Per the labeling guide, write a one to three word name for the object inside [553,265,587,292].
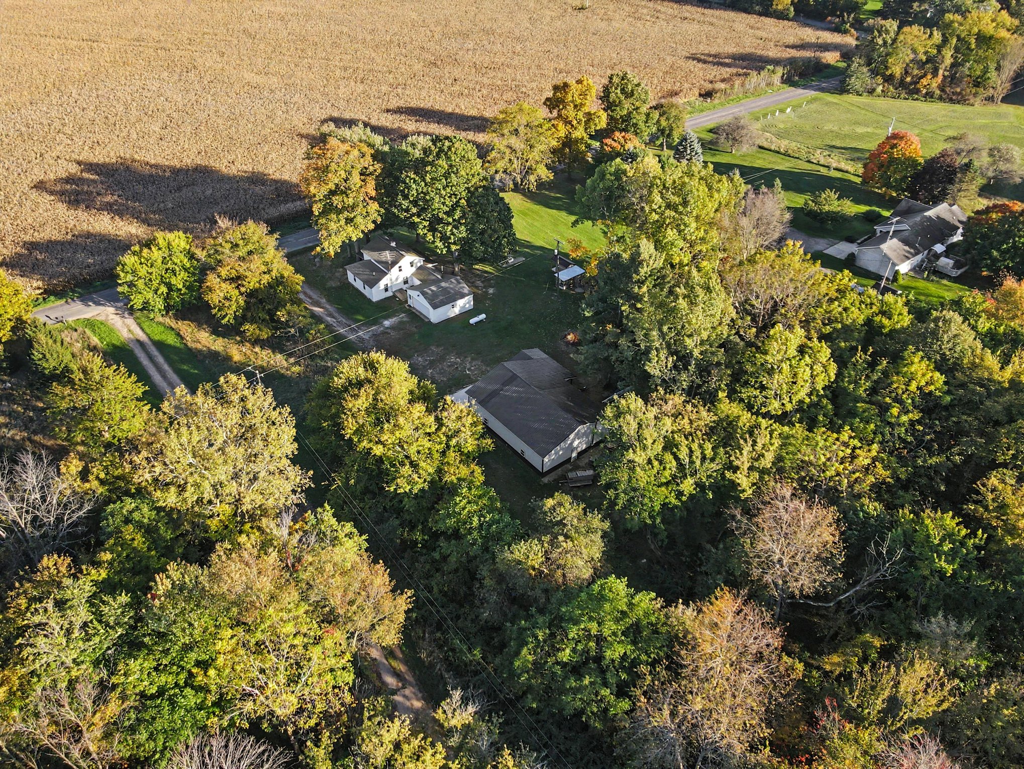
shed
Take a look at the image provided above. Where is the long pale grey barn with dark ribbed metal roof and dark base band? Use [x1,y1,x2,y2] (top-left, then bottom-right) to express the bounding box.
[462,348,616,473]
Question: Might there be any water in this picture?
No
